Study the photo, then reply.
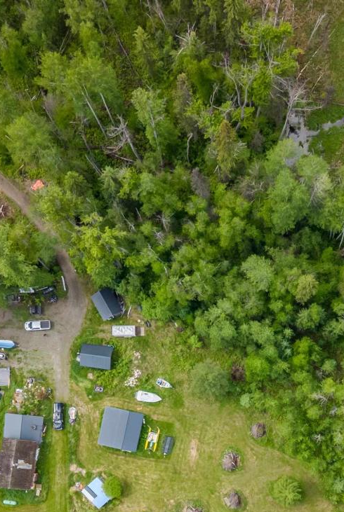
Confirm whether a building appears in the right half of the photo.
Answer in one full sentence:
No, no building is visible in the right half of the photo.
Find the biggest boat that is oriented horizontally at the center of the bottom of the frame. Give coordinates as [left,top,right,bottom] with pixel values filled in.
[134,389,160,402]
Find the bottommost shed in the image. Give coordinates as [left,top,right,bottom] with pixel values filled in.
[82,477,113,507]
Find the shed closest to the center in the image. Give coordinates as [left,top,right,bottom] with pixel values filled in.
[91,288,124,321]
